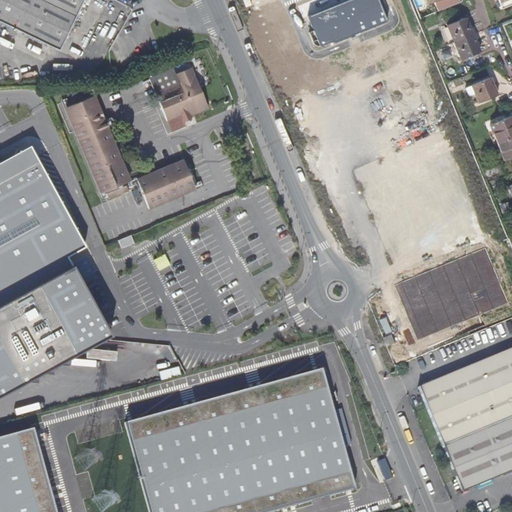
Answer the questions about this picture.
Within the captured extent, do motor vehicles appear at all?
Yes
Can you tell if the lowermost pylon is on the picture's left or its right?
left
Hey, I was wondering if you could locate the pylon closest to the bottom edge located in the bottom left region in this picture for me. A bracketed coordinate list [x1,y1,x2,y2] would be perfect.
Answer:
[90,488,118,512]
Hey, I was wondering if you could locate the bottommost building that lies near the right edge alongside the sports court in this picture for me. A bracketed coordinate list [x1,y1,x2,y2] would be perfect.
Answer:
[417,346,512,490]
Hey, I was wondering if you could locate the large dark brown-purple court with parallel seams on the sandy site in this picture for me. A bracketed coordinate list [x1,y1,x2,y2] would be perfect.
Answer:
[396,248,507,338]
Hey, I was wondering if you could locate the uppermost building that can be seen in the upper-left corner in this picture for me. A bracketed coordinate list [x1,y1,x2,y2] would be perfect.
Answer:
[0,0,84,50]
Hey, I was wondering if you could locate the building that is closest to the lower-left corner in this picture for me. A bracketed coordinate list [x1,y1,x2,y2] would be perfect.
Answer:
[0,428,57,512]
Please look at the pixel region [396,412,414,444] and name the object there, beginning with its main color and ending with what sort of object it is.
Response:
white vehicle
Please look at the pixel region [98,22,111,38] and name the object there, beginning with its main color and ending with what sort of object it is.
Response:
white vehicle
